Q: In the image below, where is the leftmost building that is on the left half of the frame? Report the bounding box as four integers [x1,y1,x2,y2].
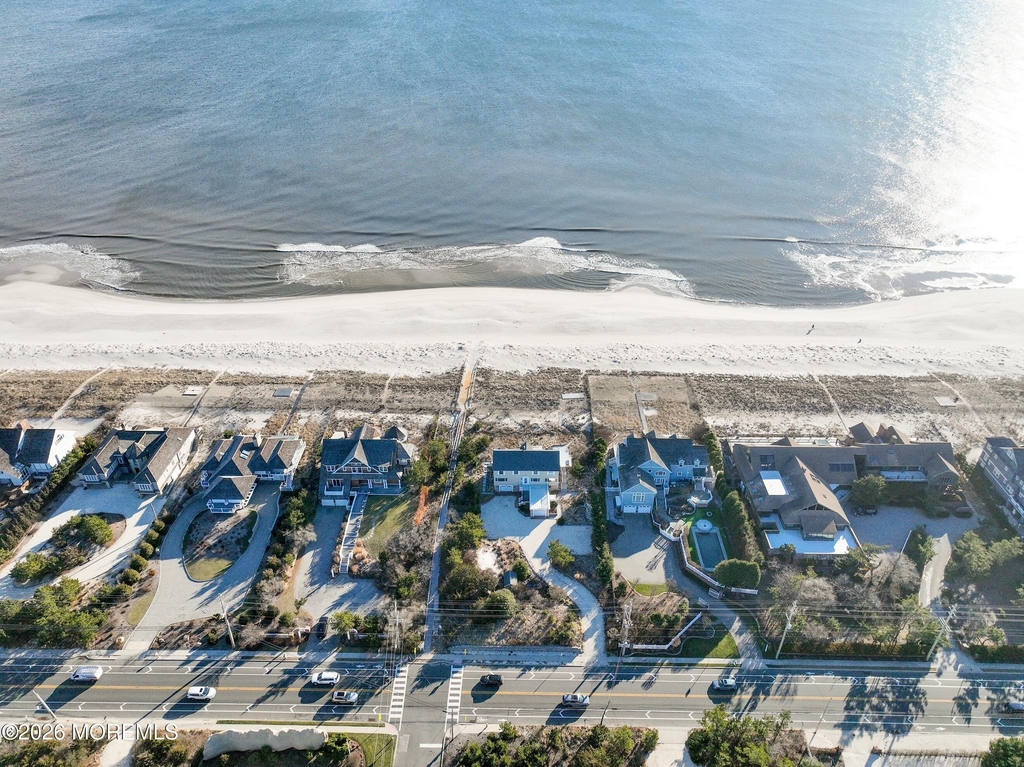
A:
[0,414,82,501]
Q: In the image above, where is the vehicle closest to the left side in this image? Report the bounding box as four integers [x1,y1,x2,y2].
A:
[70,665,104,683]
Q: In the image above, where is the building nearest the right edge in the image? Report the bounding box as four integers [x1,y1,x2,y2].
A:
[972,436,1024,531]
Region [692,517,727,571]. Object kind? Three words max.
swimming pool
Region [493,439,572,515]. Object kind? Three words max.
house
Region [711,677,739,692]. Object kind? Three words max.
car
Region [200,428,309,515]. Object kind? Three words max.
house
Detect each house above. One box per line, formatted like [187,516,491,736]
[972,436,1024,531]
[493,439,572,515]
[0,414,82,501]
[725,414,970,561]
[78,427,193,505]
[200,428,309,515]
[311,416,426,506]
[604,426,721,512]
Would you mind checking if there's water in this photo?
Yes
